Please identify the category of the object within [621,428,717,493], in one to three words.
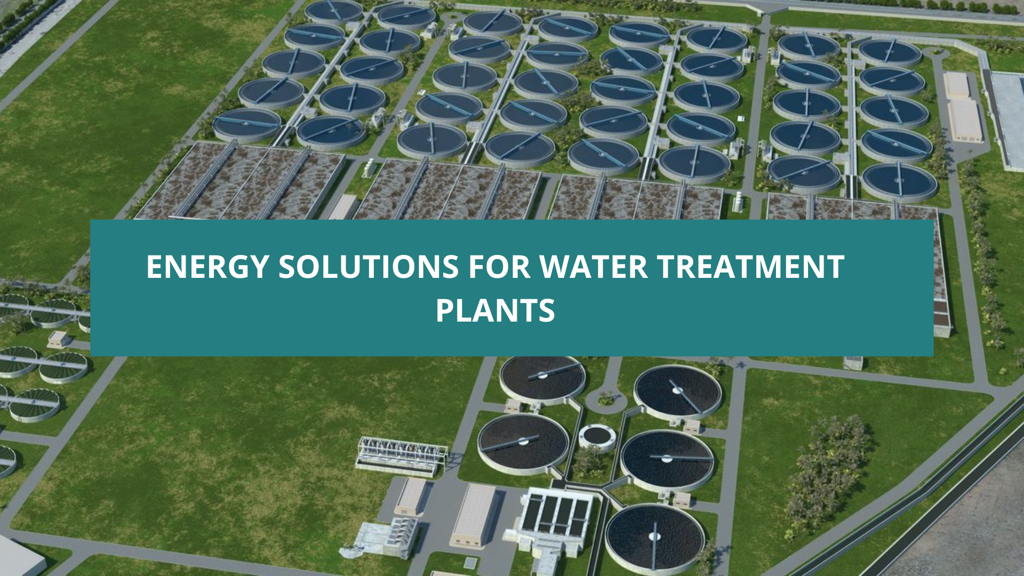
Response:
storage tank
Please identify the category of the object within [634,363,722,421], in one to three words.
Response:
storage tank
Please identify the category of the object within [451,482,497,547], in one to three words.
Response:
building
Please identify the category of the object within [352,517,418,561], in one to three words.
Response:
house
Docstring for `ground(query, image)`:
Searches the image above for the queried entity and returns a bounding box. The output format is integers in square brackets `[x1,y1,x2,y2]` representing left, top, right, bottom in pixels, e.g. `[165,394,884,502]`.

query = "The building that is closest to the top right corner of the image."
[942,71,970,102]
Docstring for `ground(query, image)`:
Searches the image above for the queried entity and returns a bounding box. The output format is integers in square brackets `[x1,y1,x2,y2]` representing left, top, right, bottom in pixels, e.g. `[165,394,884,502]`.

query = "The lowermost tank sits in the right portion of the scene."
[605,501,706,576]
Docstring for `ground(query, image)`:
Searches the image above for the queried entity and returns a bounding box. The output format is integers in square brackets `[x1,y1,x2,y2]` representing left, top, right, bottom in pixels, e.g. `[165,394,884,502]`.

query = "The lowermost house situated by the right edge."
[947,99,983,145]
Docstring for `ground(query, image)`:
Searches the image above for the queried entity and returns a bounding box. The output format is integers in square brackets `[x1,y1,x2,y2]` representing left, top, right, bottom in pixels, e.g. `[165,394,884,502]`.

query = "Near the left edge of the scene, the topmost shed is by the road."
[46,329,70,349]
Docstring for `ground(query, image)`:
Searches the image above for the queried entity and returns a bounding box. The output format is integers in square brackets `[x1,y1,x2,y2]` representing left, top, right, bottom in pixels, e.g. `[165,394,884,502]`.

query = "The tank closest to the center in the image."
[500,350,586,406]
